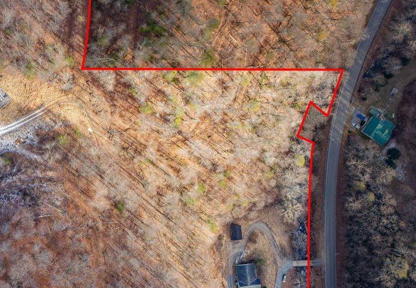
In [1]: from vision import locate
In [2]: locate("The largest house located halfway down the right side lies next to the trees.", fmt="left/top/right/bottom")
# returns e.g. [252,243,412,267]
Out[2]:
[361,107,395,145]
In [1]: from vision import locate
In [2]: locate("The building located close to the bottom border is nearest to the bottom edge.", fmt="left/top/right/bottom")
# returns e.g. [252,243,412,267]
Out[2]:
[237,263,261,288]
